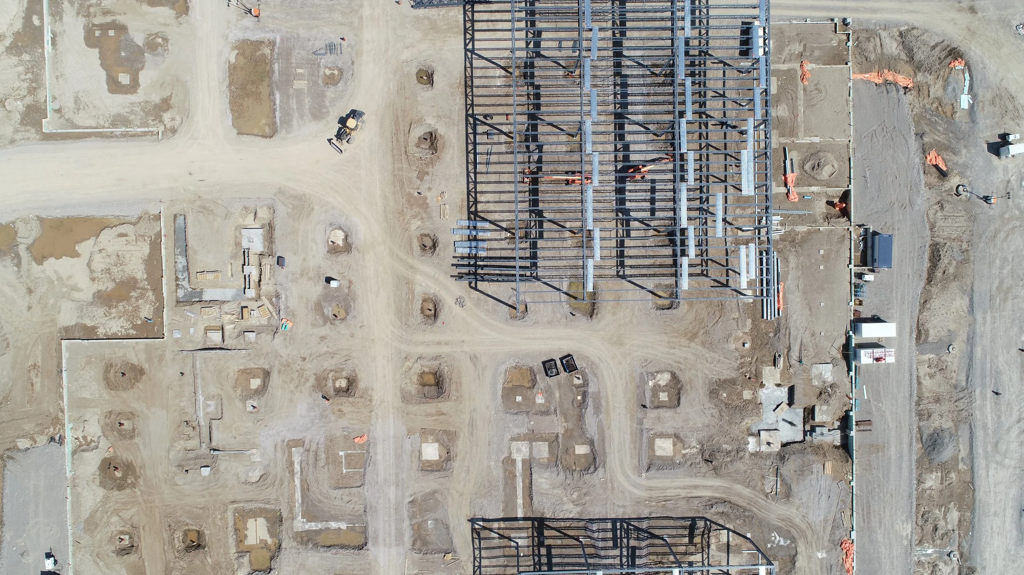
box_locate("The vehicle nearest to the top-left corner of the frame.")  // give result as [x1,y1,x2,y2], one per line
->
[331,109,365,152]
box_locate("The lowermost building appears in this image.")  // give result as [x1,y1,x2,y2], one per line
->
[520,539,776,575]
